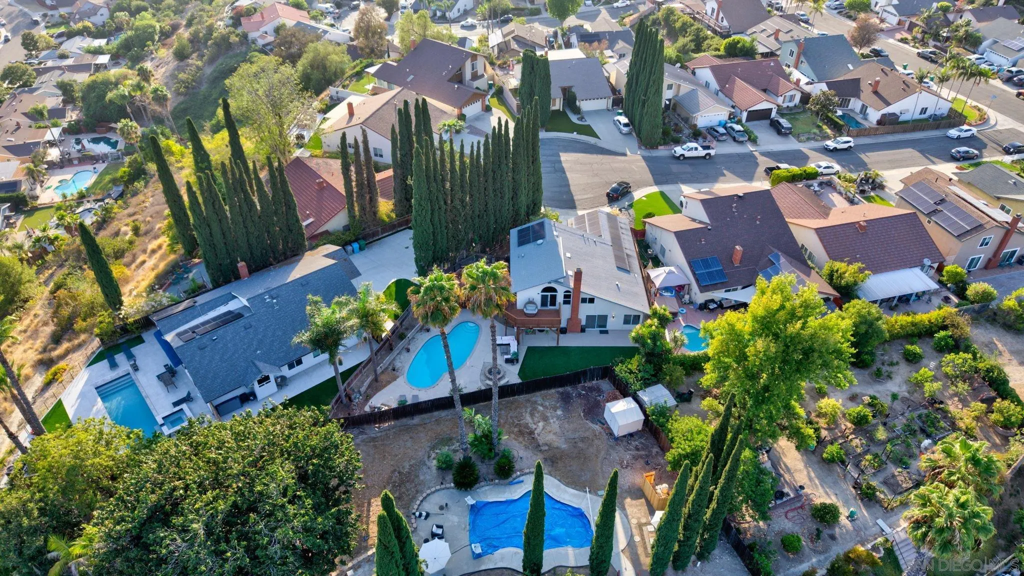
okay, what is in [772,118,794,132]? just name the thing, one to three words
car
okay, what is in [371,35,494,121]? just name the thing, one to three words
house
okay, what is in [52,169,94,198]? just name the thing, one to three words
swimming pool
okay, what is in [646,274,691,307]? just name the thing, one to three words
gazebo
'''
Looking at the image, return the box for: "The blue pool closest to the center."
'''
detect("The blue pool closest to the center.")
[404,318,482,390]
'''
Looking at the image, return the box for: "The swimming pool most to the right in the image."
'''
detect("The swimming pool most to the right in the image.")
[836,111,869,131]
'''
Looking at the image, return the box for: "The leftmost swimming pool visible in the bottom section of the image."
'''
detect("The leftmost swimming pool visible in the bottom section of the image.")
[89,368,167,453]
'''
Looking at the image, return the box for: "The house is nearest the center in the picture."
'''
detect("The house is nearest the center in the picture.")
[509,209,650,333]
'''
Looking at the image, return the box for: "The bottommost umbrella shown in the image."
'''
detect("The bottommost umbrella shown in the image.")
[415,547,449,576]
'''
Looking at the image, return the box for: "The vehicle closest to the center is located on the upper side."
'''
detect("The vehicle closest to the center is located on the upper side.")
[605,183,633,200]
